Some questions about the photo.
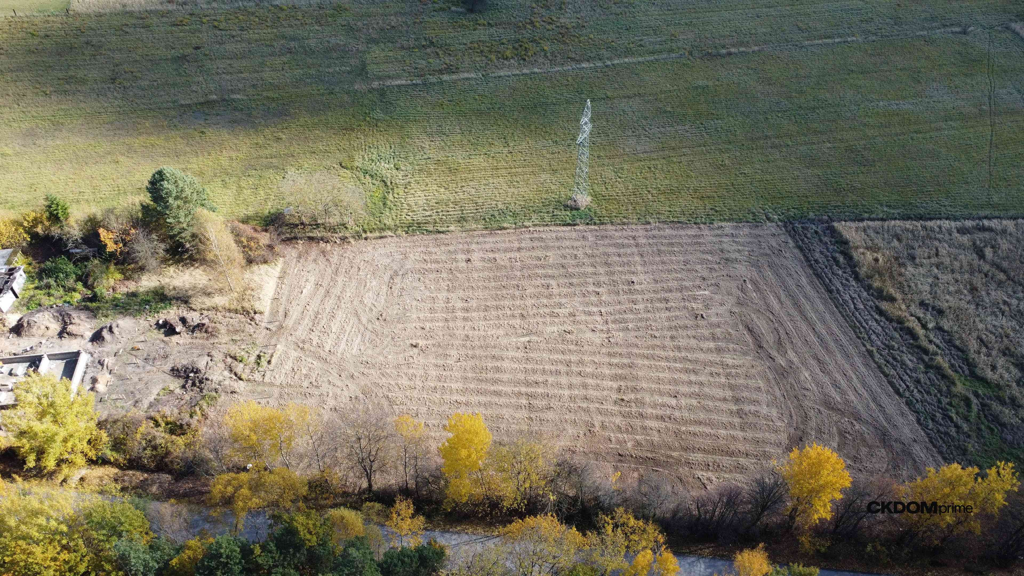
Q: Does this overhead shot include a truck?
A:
No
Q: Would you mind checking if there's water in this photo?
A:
No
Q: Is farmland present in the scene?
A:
Yes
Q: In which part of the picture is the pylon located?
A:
top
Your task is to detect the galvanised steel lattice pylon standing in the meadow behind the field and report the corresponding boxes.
[572,97,594,205]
